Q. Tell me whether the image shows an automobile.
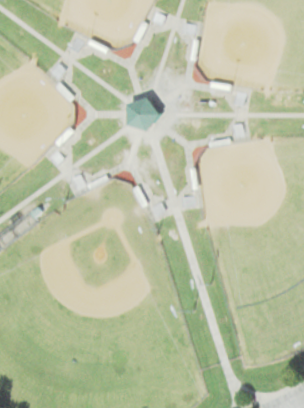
No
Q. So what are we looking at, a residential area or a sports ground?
sports ground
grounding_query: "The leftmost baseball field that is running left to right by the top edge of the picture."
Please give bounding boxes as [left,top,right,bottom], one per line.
[28,0,155,50]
